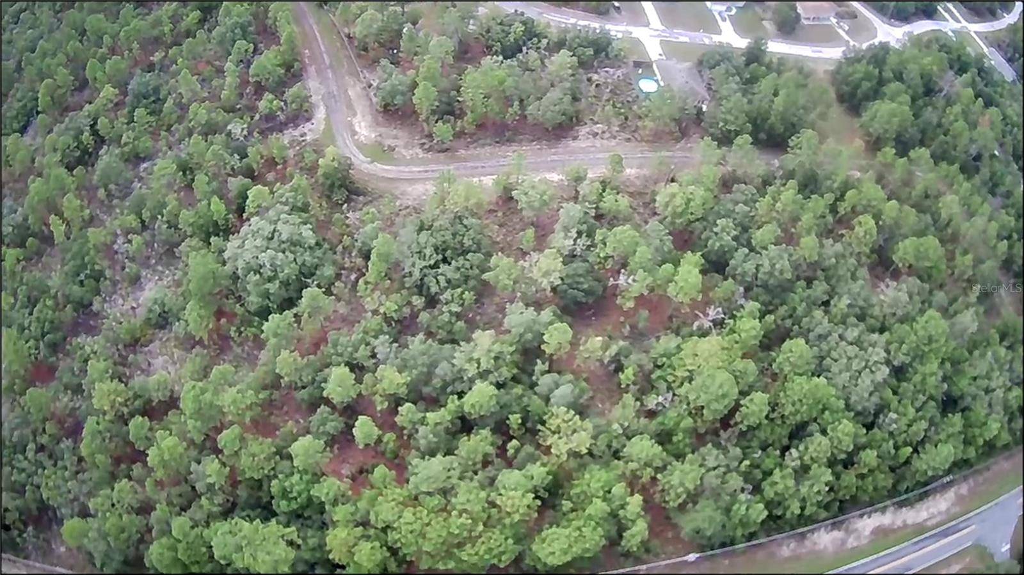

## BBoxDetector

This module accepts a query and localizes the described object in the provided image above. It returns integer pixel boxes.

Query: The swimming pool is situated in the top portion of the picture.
[638,76,660,94]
